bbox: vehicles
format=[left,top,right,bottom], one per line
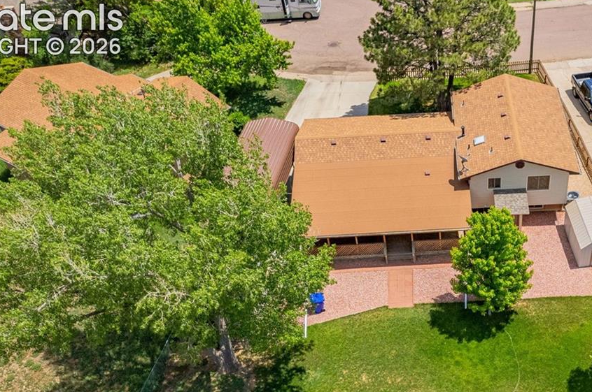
[246,0,327,20]
[572,72,592,117]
